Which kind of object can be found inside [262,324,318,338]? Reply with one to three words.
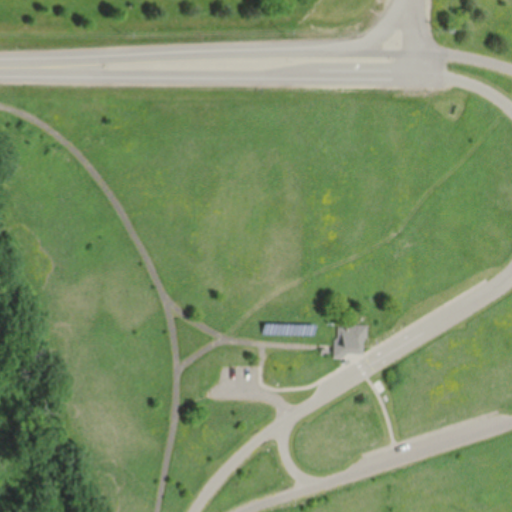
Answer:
solar array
